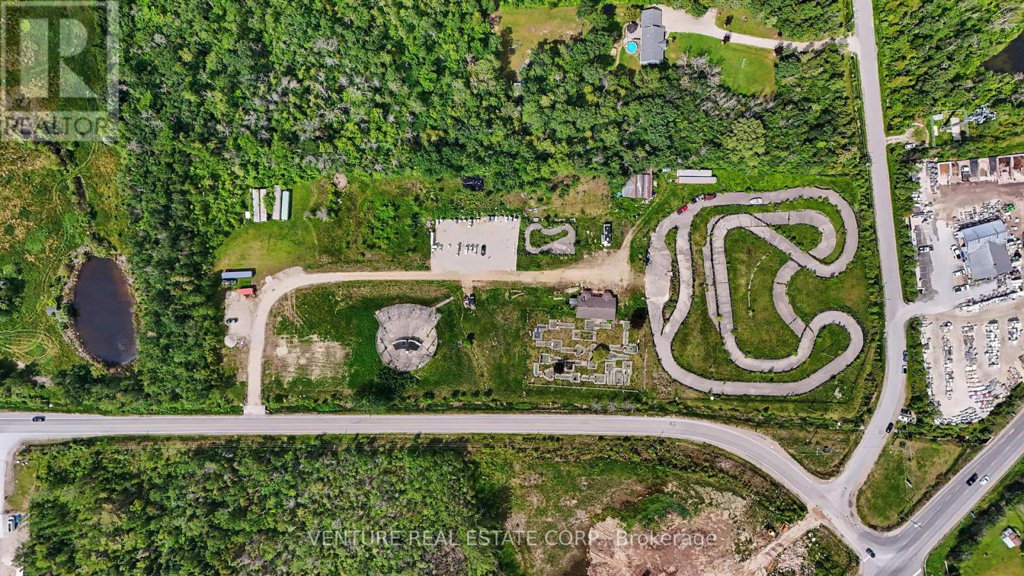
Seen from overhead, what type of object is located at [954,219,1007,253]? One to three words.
building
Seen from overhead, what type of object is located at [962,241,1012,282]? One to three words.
building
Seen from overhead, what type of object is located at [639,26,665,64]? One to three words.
house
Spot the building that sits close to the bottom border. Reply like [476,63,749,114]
[995,524,1022,548]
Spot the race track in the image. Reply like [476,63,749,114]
[653,186,863,396]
